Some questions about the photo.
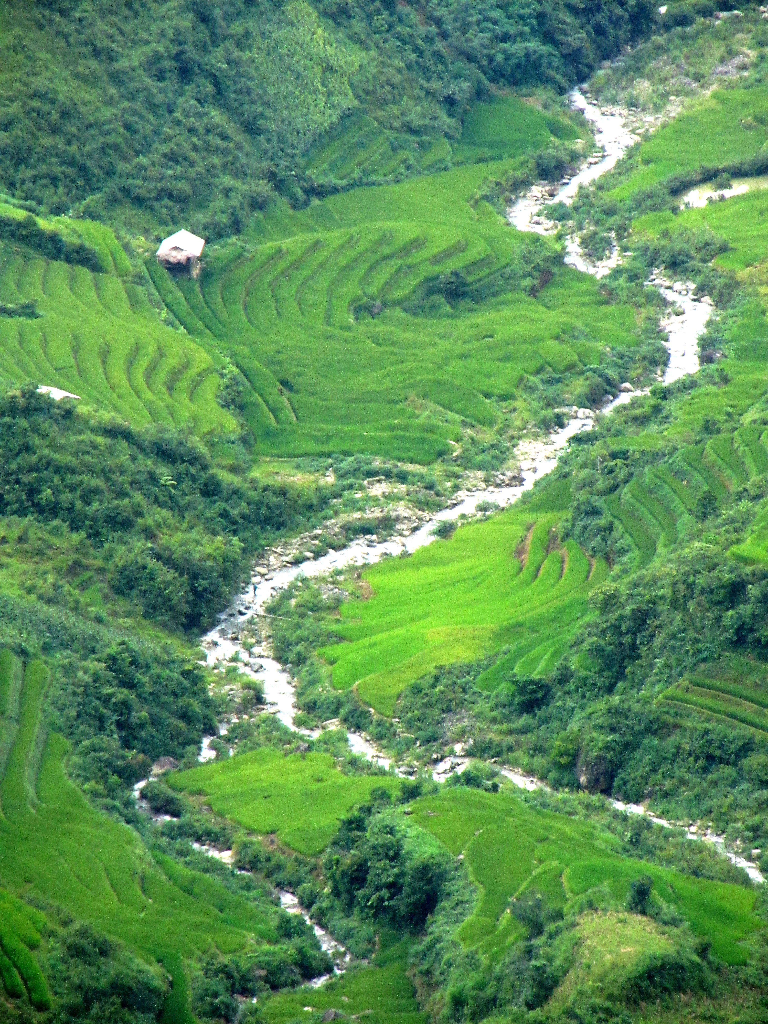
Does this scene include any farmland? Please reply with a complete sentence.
Yes, some farmland is visible.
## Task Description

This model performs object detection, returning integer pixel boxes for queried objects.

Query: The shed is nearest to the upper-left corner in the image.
[156,237,206,283]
